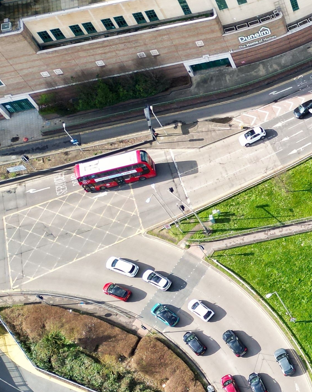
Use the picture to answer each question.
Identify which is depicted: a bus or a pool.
bus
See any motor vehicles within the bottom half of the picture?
Yes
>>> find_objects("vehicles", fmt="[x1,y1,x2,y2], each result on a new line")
[103,284,131,303]
[246,372,269,392]
[151,305,180,327]
[106,258,139,278]
[293,98,312,120]
[221,377,241,392]
[142,270,173,292]
[275,350,296,378]
[73,147,157,190]
[222,331,249,359]
[187,300,216,324]
[239,125,267,147]
[184,333,208,357]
